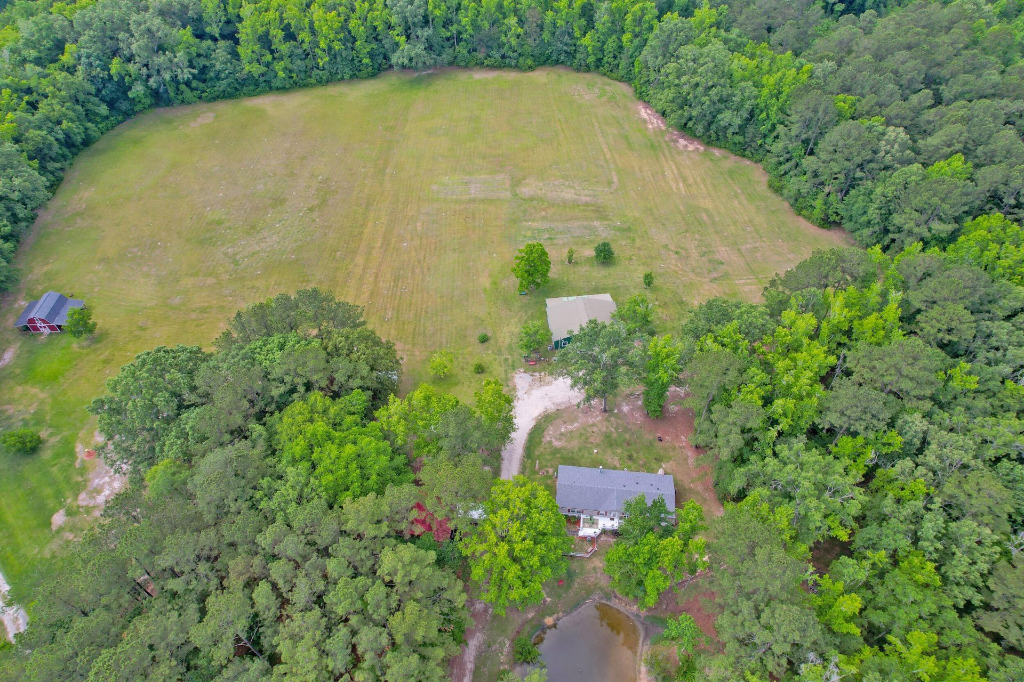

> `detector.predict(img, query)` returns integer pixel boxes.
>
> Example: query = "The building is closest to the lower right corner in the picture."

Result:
[556,465,676,519]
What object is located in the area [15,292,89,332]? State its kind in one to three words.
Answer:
barn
